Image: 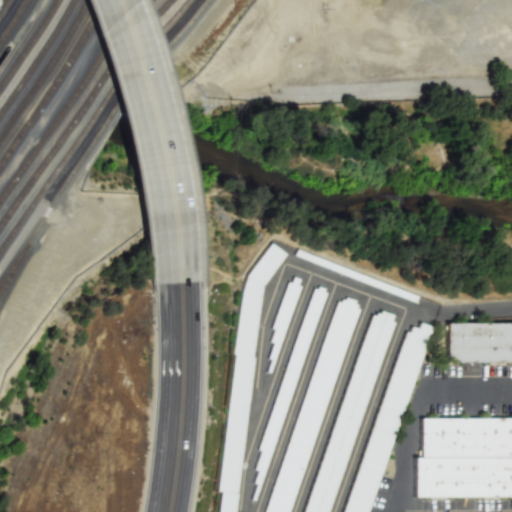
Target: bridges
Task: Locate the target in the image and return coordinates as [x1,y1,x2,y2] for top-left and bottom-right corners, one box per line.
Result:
[92,0,209,284]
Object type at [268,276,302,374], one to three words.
building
